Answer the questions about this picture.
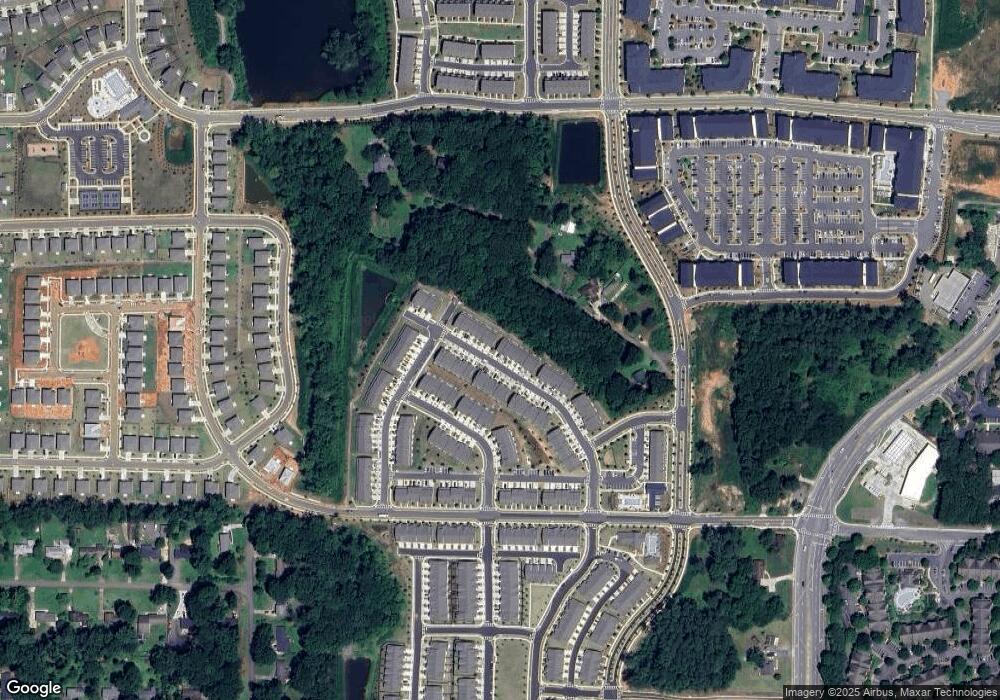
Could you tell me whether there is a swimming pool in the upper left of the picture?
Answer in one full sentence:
Yes, there is a swimming pool in the upper left of the picture.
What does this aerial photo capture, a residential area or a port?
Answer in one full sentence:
The area seen from above is a residential area.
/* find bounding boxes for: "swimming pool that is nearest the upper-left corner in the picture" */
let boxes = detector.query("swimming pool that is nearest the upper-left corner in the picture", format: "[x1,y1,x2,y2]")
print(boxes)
[88,68,138,118]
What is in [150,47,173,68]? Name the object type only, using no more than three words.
house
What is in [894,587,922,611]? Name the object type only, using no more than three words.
swimming pool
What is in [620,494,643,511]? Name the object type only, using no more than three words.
swimming pool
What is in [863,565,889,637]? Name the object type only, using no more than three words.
building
